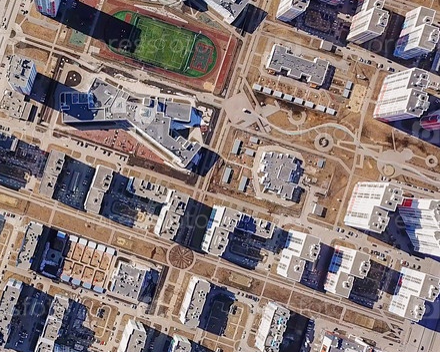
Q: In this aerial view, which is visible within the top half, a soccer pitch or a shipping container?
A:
soccer pitch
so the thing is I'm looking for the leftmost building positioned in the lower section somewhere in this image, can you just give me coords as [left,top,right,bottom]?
[0,275,26,347]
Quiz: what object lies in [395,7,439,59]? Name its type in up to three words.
building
